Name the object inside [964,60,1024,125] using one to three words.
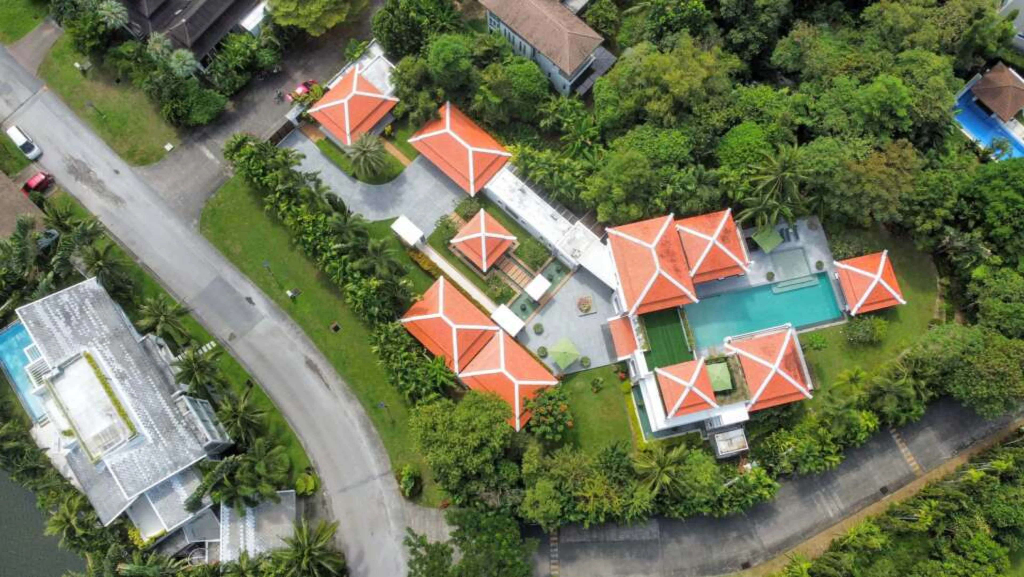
building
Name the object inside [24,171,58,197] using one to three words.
car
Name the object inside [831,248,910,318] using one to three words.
building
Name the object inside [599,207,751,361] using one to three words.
house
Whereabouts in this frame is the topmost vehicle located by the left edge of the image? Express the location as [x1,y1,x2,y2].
[4,123,45,163]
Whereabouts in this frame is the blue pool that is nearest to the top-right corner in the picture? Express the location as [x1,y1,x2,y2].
[951,83,1024,165]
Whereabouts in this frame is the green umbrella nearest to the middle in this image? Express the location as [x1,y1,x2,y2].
[548,337,579,369]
